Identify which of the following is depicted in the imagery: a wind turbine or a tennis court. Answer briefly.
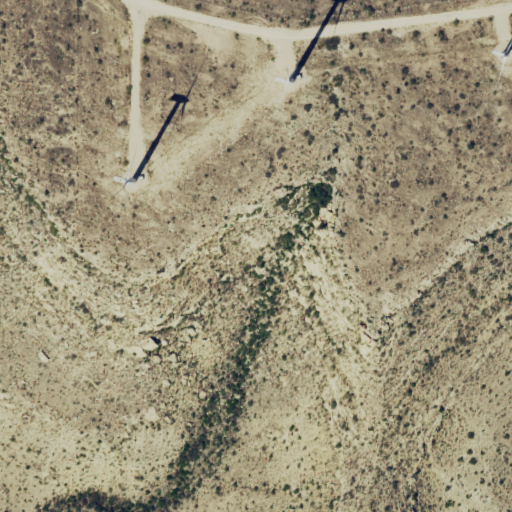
wind turbine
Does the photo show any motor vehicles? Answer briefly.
No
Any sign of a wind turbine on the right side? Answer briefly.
Yes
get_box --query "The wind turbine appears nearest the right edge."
[490,40,512,94]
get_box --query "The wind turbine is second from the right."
[273,56,299,118]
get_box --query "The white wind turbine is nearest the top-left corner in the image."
[113,156,140,220]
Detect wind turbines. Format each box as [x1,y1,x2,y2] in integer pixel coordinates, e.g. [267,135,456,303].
[113,156,140,220]
[273,56,299,118]
[490,40,512,94]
